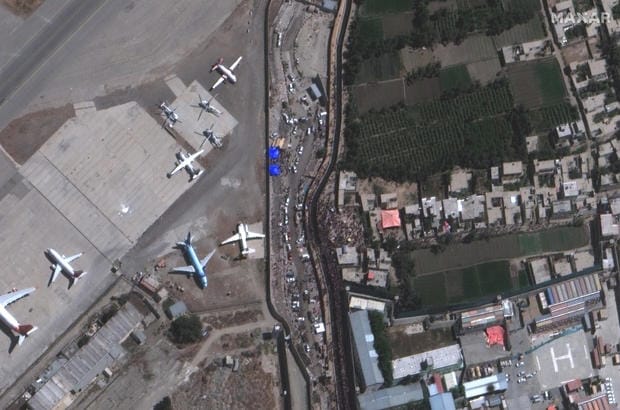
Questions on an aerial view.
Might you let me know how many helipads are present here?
1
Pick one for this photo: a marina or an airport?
airport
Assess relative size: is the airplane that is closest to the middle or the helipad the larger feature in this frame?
the helipad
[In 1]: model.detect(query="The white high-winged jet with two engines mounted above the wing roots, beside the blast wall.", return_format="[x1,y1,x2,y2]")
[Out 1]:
[223,223,267,254]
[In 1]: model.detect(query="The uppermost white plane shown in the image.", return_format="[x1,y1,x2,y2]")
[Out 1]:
[212,59,243,88]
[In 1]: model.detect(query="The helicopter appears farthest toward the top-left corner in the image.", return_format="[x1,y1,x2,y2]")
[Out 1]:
[158,101,183,127]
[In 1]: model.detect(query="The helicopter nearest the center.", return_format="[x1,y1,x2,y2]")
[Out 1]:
[199,124,223,147]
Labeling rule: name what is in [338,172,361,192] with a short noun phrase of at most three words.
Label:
house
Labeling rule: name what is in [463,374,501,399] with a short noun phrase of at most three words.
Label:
building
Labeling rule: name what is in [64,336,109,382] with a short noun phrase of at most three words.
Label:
shed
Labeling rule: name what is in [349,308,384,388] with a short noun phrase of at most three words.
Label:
building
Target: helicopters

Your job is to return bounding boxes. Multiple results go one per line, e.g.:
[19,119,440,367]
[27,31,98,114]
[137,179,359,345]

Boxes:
[199,124,223,147]
[158,101,183,127]
[193,96,223,119]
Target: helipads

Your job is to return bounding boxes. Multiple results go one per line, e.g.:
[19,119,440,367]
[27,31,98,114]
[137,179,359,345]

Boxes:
[531,336,596,389]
